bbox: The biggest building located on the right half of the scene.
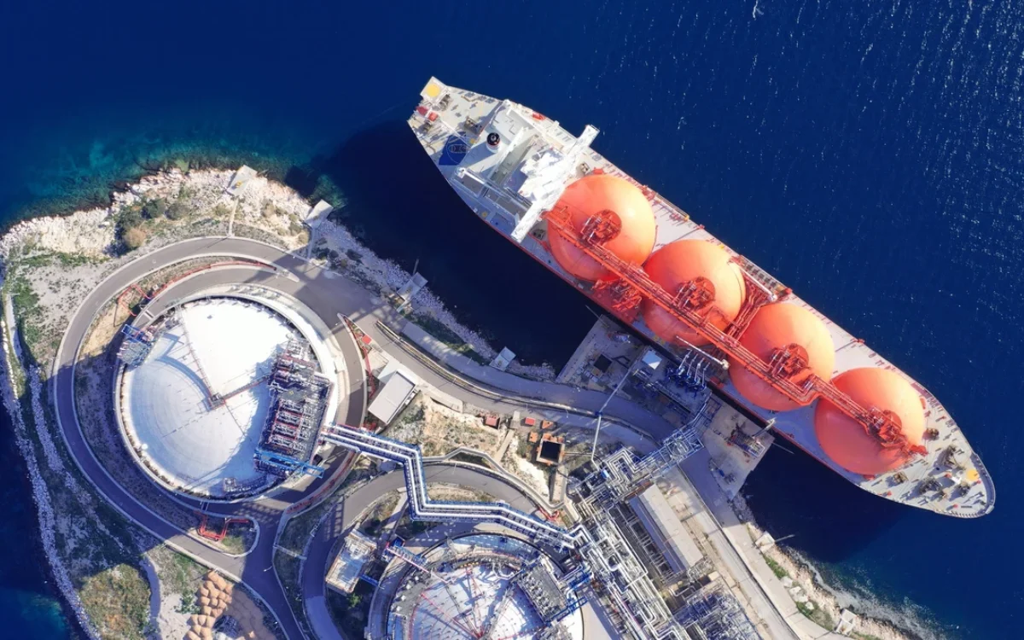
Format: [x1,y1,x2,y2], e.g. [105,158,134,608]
[624,480,706,576]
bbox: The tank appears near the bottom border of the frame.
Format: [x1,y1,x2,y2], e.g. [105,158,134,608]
[385,531,594,640]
